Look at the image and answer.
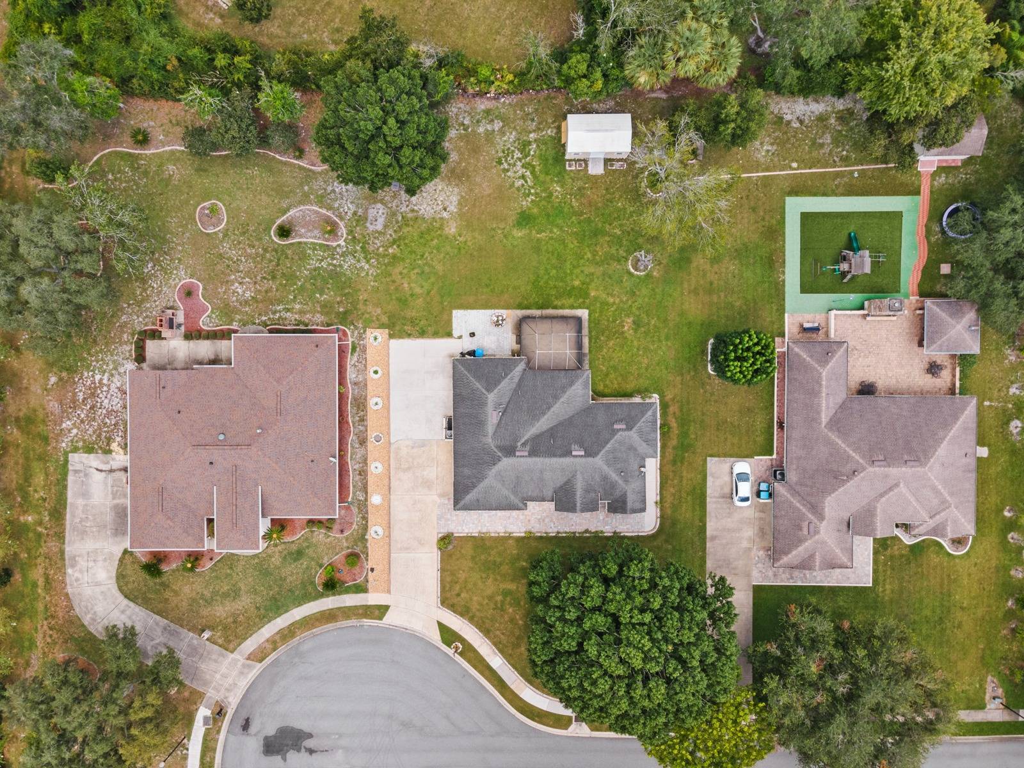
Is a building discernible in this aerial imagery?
Yes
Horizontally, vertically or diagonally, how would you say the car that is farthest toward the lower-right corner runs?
vertically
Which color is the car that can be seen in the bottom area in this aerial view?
white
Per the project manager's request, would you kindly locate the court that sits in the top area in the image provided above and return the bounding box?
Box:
[785,196,920,314]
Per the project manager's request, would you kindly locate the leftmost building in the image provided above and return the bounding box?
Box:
[128,334,339,552]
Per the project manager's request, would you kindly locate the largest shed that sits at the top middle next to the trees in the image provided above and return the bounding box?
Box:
[565,114,632,174]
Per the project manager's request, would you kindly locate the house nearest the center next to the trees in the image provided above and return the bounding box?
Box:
[452,356,659,514]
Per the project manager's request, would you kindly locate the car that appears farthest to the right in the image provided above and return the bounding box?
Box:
[733,462,755,509]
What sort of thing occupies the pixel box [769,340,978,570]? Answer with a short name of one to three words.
house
